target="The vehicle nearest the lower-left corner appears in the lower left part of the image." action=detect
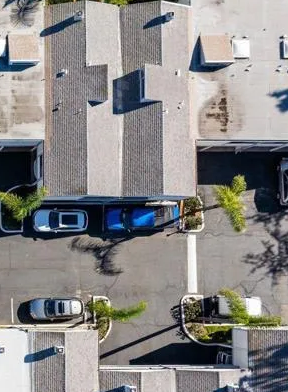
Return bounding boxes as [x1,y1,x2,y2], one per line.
[25,296,85,322]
